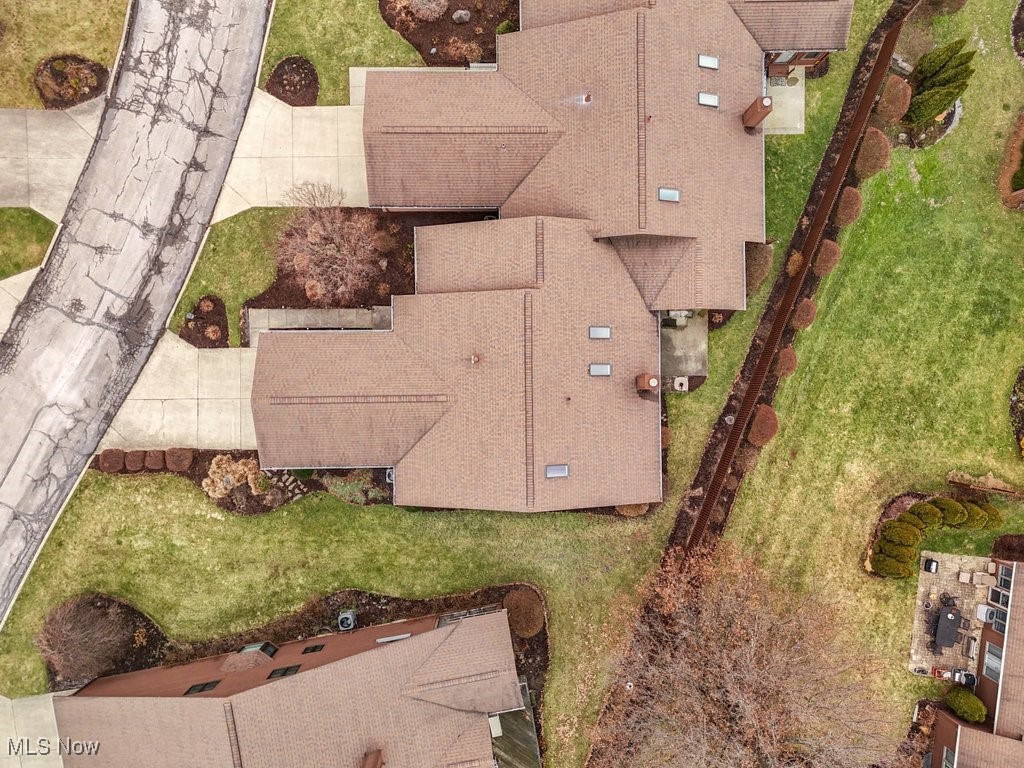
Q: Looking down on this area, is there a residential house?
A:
Yes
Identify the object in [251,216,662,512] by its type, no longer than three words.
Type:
house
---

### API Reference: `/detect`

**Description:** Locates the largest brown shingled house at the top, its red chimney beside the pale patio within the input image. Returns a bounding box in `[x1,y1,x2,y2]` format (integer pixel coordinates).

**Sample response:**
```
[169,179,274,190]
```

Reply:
[363,0,856,308]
